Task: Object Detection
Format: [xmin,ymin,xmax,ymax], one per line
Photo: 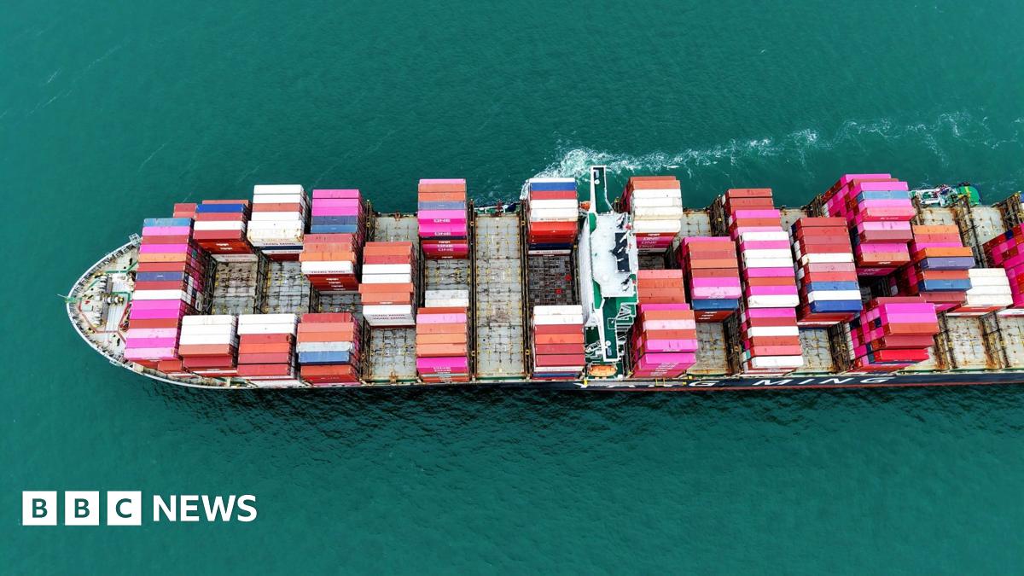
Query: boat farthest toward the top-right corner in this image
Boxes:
[908,180,984,205]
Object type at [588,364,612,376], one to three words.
boat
